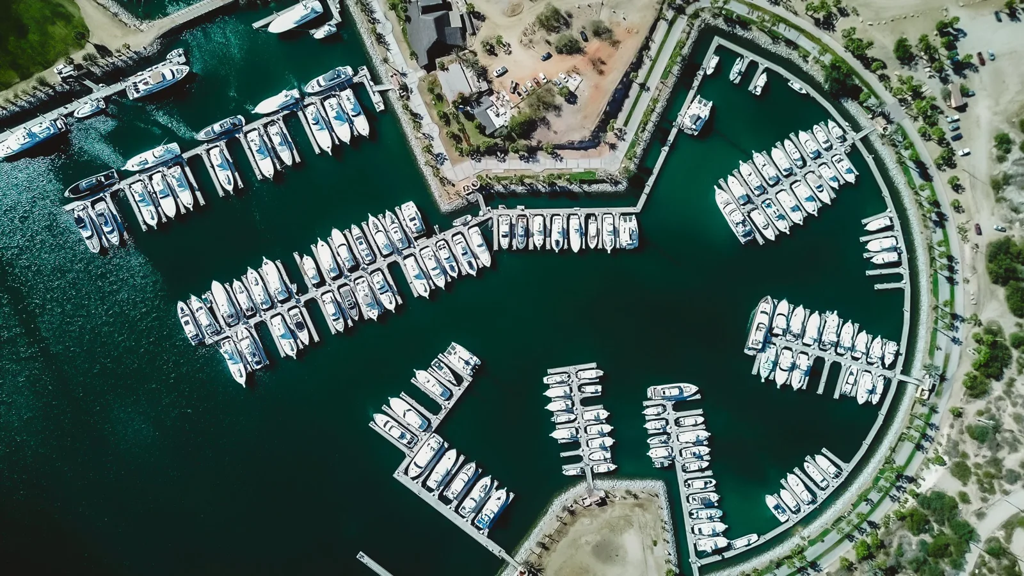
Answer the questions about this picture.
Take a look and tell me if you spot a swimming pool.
No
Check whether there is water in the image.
Yes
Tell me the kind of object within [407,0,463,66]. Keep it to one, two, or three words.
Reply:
house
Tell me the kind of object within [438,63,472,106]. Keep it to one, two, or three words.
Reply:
house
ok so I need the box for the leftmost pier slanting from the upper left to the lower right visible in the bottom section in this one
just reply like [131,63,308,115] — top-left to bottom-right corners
[356,550,395,576]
